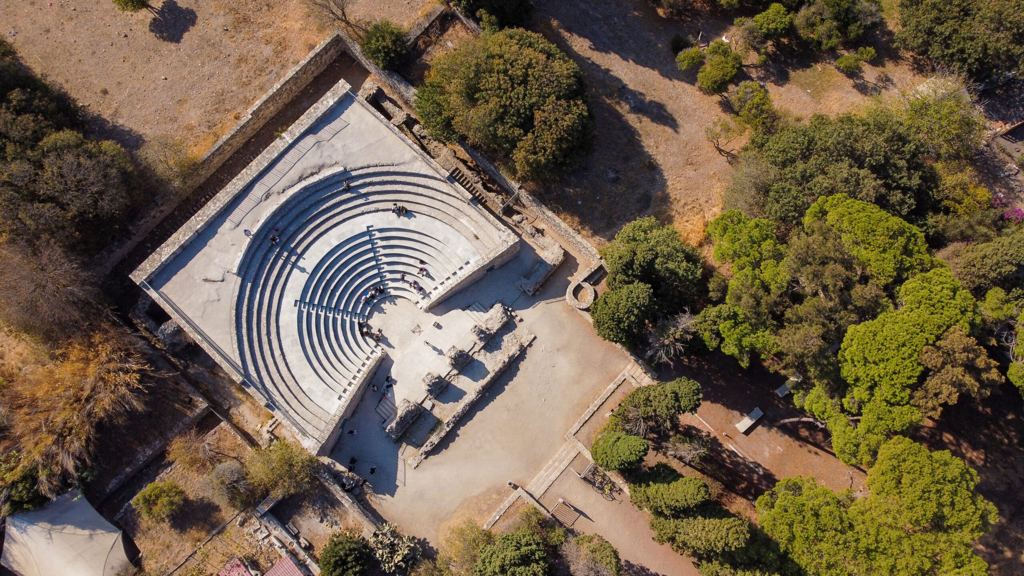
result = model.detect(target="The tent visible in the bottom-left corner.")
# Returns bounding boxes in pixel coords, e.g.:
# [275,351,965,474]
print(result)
[0,488,149,576]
